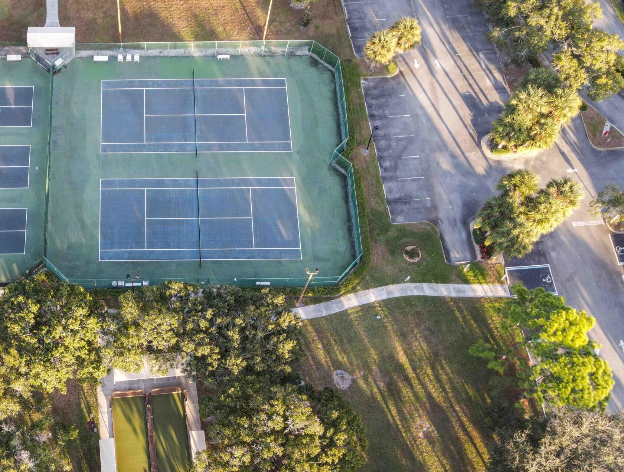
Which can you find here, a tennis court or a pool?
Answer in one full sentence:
Of the two, only a tennis court appears.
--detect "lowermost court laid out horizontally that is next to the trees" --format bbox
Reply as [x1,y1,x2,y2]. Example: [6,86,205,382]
[99,169,301,268]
